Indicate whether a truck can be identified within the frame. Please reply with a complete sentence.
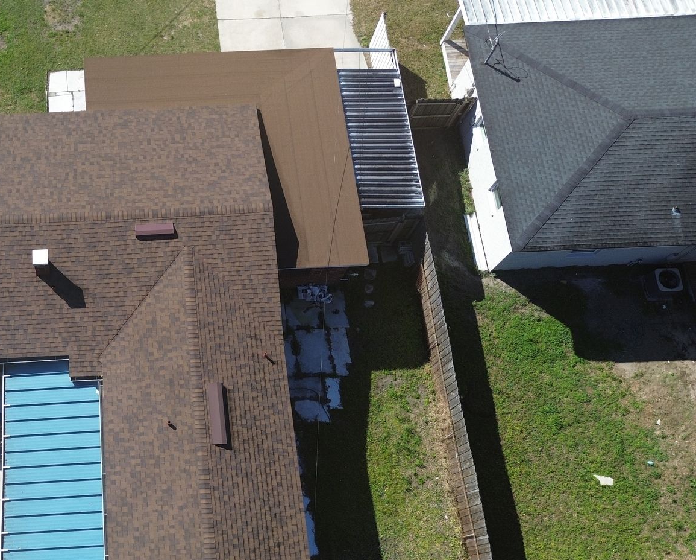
No, no truck can be seen from above.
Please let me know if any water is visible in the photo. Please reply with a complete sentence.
No, water can't be seen anywhere here.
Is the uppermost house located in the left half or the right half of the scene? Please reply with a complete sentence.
You can find the uppermost house on the right side of the picture.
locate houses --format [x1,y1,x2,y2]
[438,0,696,272]
[0,52,366,560]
